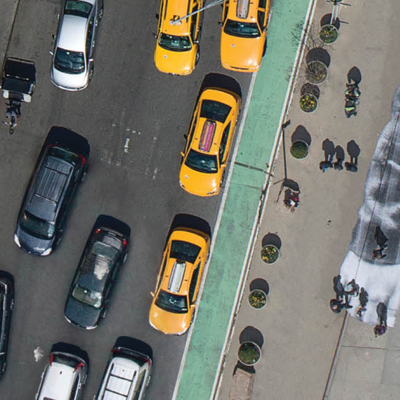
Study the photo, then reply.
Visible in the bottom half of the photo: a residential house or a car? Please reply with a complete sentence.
Looking in the bottom half of the photo, you will find a car.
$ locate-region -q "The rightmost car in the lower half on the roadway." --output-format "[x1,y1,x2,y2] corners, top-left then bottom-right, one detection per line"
[146,226,211,337]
